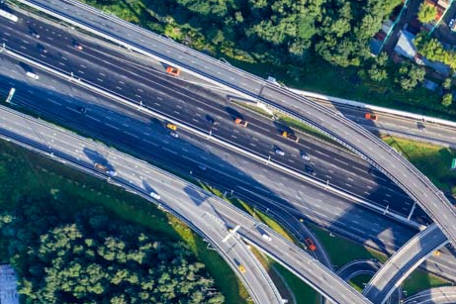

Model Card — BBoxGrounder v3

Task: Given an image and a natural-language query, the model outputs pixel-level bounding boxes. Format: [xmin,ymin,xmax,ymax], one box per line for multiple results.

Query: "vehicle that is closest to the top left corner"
[0,7,22,21]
